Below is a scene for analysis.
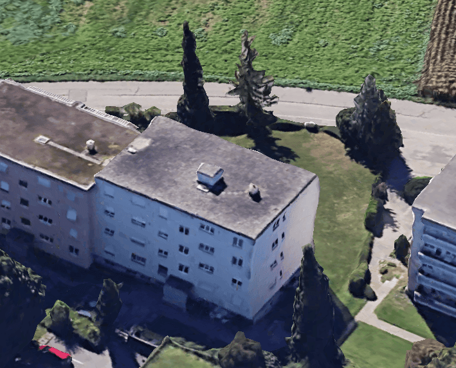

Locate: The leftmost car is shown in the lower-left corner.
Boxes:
[34,344,73,368]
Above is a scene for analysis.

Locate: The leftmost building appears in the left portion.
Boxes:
[0,80,150,271]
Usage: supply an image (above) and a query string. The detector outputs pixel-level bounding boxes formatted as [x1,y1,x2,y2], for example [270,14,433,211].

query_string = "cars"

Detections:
[71,293,98,315]
[34,344,73,368]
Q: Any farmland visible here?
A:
Yes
